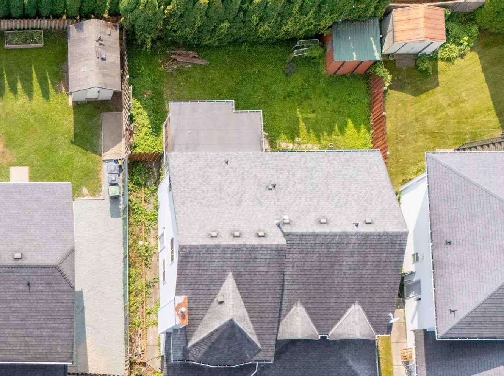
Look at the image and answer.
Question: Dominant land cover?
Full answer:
What you mostly see from above here is buildings.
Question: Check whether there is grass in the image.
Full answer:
Yes, grass can be seen from above here.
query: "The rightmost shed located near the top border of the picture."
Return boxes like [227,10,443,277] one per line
[381,6,445,54]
